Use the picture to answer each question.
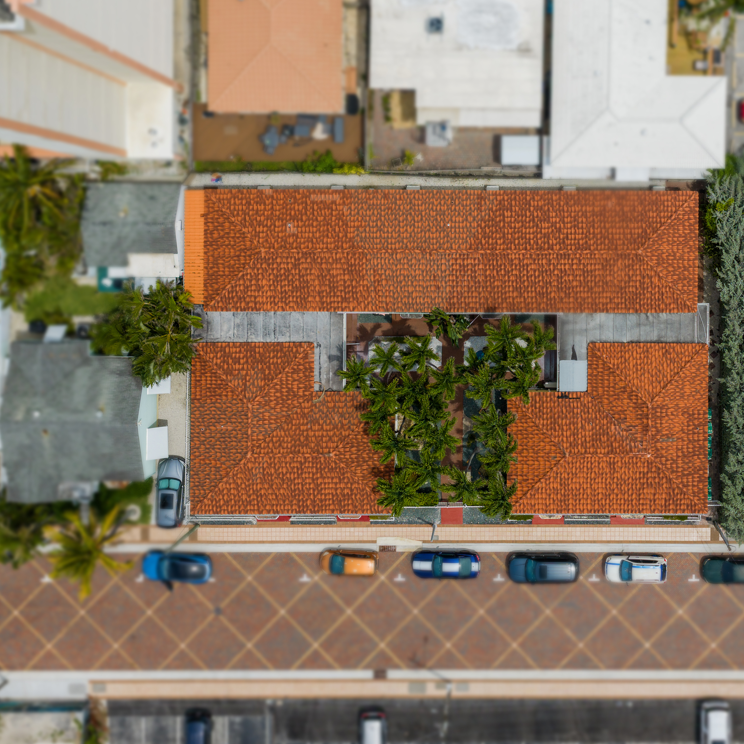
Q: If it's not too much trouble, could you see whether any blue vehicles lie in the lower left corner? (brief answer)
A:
Yes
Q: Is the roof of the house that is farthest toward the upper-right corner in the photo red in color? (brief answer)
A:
No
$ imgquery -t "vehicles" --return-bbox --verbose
[699,551,744,587]
[602,549,668,587]
[507,546,578,586]
[698,695,731,744]
[144,546,215,585]
[359,702,387,744]
[154,454,188,527]
[321,544,379,578]
[412,545,481,581]
[184,704,216,744]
